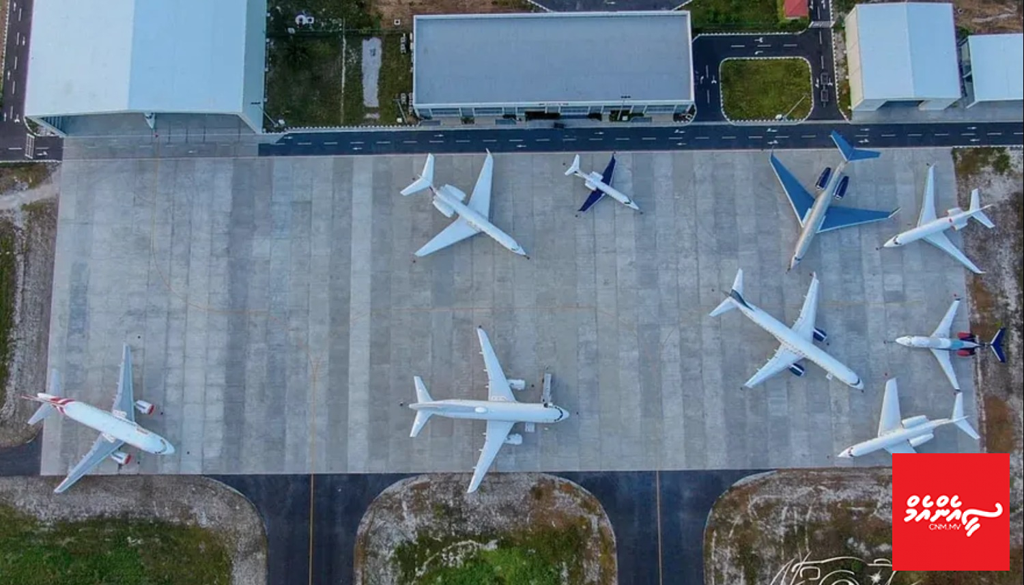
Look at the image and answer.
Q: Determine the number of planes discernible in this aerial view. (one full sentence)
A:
The photo contains 9 planes.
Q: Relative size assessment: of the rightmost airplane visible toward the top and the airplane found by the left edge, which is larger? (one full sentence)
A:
The rightmost airplane visible toward the top is smaller than the airplane found by the left edge.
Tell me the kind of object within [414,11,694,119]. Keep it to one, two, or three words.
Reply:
building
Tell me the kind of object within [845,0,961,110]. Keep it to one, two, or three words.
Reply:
hangar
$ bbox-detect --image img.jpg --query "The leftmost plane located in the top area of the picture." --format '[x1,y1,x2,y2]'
[401,148,525,256]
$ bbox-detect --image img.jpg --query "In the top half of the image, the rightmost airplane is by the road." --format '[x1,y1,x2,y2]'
[884,163,994,272]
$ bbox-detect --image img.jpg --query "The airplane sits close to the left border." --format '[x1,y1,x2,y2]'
[16,343,175,495]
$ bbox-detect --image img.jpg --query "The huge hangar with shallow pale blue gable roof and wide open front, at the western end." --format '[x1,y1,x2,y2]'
[27,0,267,136]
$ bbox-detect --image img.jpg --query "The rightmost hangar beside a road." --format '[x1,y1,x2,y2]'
[960,33,1024,109]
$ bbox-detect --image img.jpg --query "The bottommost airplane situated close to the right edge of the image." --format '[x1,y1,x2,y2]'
[838,378,981,486]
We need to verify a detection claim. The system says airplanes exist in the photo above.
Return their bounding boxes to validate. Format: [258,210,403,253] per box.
[16,343,175,495]
[771,131,903,267]
[408,329,569,492]
[838,378,981,486]
[401,148,525,256]
[710,270,863,388]
[565,155,638,211]
[884,163,994,272]
[896,299,1006,390]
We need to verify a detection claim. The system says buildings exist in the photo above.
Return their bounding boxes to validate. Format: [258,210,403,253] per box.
[414,11,694,119]
[845,0,961,110]
[782,0,808,21]
[960,33,1024,109]
[27,0,267,136]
